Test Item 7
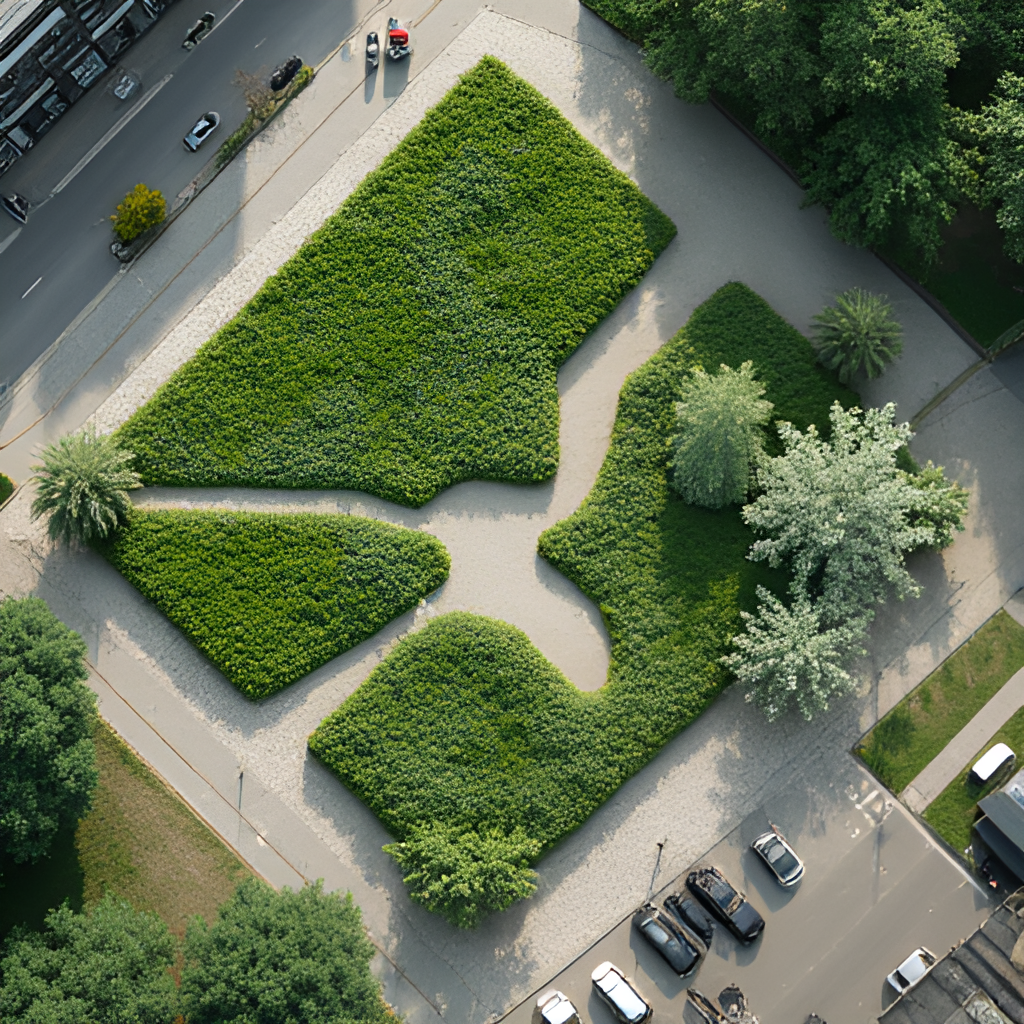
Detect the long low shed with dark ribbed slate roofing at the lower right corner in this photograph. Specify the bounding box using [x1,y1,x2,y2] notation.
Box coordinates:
[864,883,1024,1024]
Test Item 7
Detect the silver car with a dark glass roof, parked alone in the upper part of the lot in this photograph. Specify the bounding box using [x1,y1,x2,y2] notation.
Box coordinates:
[750,826,806,891]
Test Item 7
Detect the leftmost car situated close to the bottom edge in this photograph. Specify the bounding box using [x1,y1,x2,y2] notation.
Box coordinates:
[543,986,593,1024]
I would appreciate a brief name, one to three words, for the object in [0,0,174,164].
building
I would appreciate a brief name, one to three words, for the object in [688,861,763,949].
car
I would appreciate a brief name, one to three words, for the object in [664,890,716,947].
car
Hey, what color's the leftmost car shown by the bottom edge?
white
